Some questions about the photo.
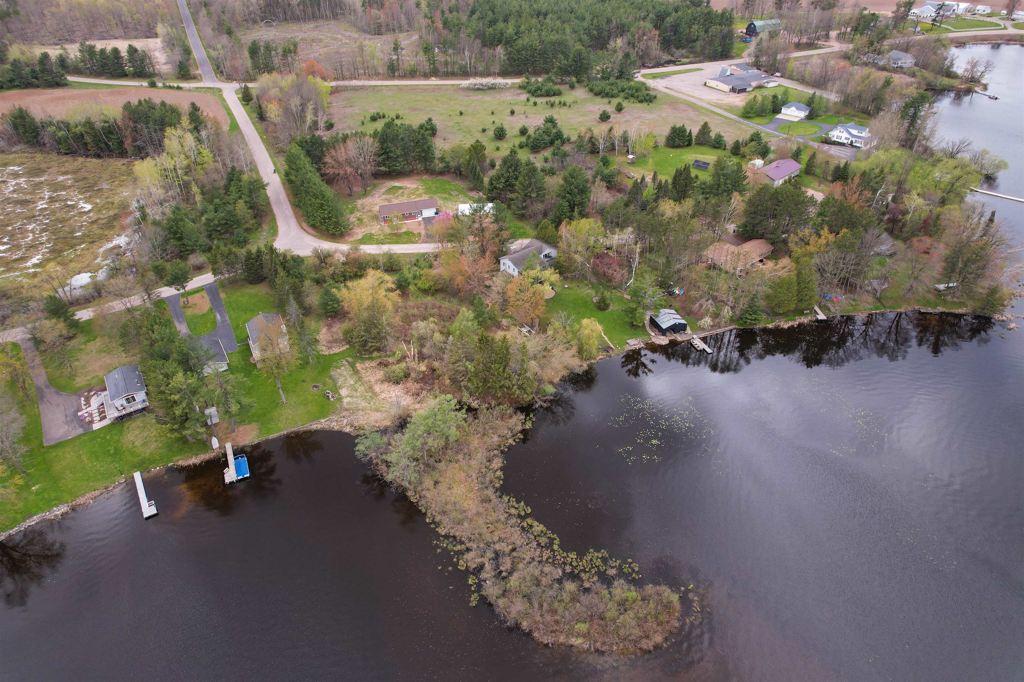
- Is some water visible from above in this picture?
Yes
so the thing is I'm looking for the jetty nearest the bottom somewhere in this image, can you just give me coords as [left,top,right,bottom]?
[134,471,159,522]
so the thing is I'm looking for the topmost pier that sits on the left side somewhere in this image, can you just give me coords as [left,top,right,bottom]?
[219,442,237,488]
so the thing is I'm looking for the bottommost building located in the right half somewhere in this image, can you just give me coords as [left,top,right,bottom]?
[647,307,690,336]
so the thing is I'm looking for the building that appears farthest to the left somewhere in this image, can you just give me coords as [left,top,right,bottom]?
[94,363,153,418]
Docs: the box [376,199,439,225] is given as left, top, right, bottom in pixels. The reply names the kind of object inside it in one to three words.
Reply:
house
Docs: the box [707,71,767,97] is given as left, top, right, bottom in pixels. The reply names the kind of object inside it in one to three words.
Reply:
building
